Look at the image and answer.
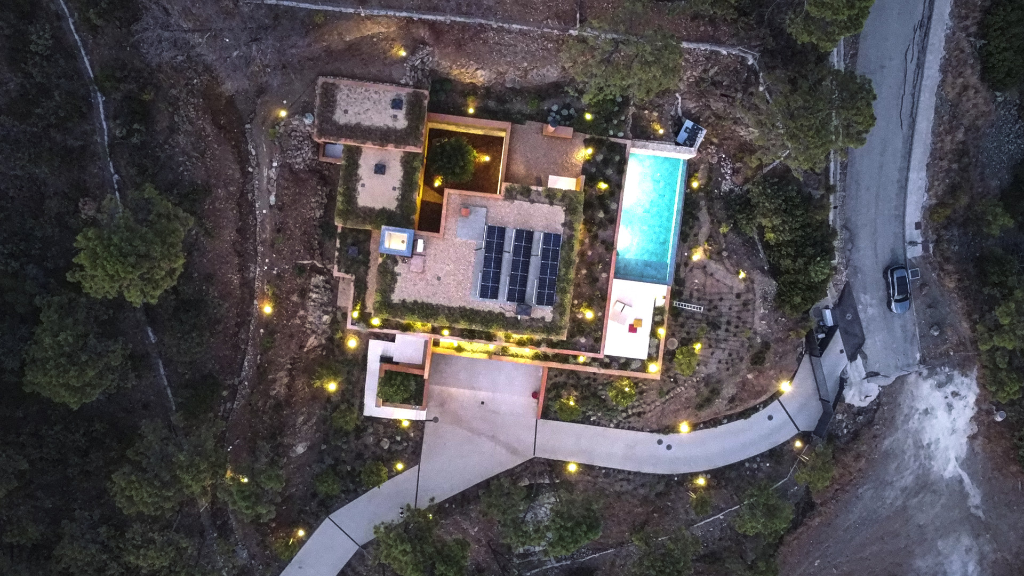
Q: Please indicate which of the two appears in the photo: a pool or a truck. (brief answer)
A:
pool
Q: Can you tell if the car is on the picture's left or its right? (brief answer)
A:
right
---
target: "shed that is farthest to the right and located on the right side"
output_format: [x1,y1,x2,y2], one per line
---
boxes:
[671,119,707,150]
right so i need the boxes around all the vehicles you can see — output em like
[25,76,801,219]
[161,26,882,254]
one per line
[885,265,915,314]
